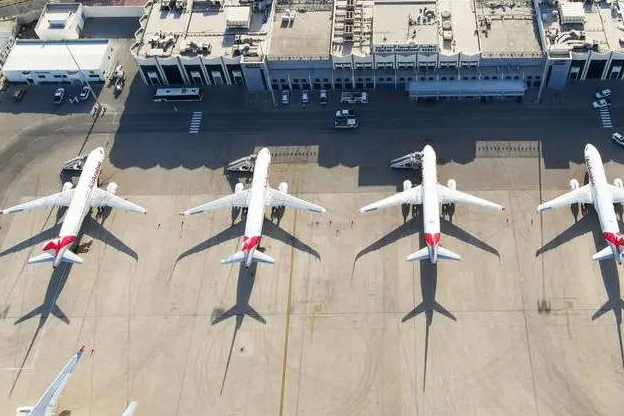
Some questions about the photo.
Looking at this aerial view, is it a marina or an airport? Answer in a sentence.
The picture captures an airport.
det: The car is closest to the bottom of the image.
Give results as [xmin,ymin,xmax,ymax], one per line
[610,133,624,146]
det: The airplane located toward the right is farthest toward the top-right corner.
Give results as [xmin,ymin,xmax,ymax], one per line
[537,144,624,262]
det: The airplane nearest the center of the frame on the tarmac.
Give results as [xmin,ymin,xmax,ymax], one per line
[184,146,325,266]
